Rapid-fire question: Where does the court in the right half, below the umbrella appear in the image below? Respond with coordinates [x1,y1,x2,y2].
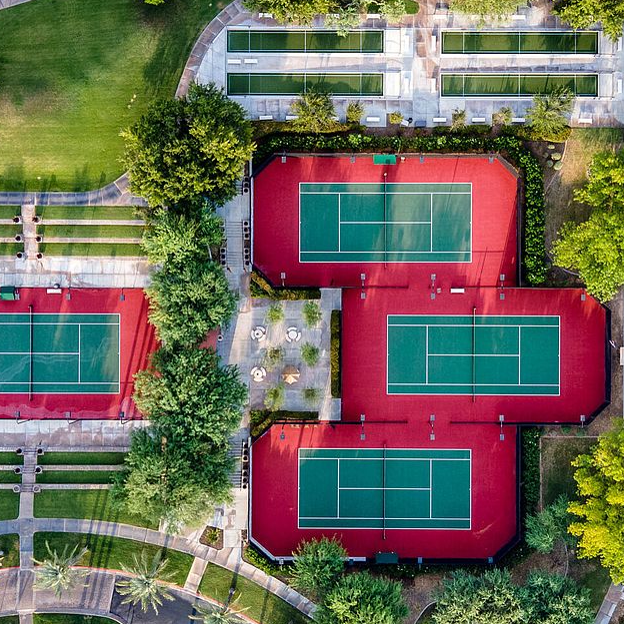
[251,424,516,558]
